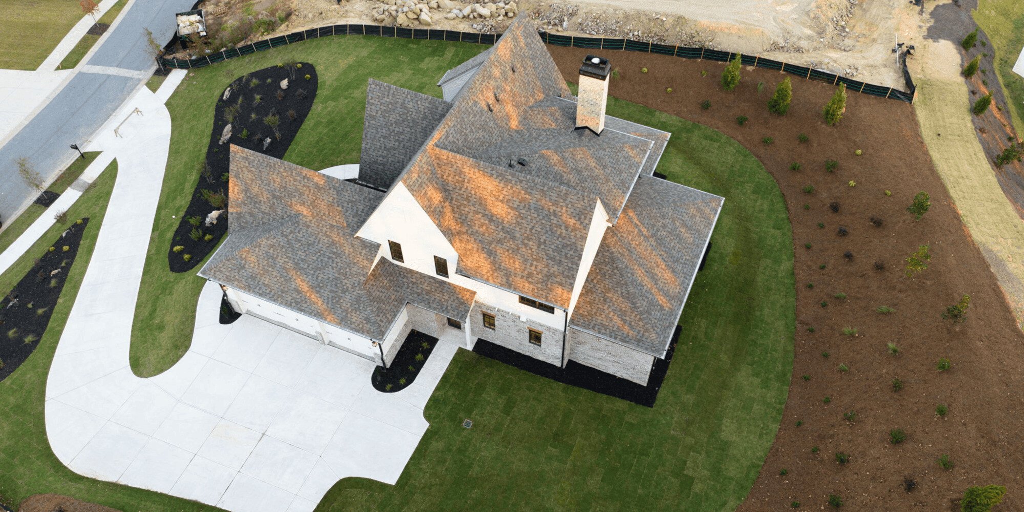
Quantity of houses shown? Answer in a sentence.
In total, 1 house can be seen.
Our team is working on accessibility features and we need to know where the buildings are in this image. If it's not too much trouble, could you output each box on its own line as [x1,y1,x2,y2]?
[194,11,726,386]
